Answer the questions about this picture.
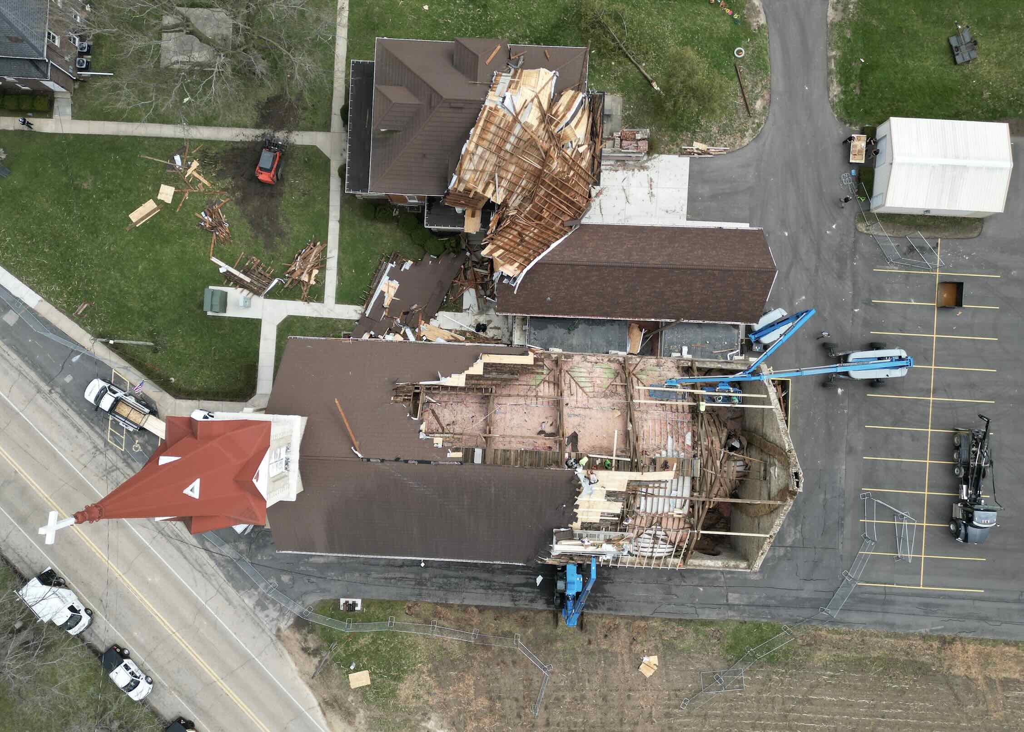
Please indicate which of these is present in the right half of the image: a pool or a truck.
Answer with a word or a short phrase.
truck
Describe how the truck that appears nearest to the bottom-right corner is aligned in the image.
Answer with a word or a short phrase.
vertically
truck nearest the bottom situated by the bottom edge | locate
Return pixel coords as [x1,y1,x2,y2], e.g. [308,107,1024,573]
[151,705,196,732]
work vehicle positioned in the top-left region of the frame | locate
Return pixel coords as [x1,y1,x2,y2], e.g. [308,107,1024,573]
[249,134,285,181]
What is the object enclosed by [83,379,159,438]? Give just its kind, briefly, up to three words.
truck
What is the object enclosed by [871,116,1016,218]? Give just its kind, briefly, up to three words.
shed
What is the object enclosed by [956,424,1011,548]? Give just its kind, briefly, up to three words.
truck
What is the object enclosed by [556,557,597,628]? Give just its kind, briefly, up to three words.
work vehicle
